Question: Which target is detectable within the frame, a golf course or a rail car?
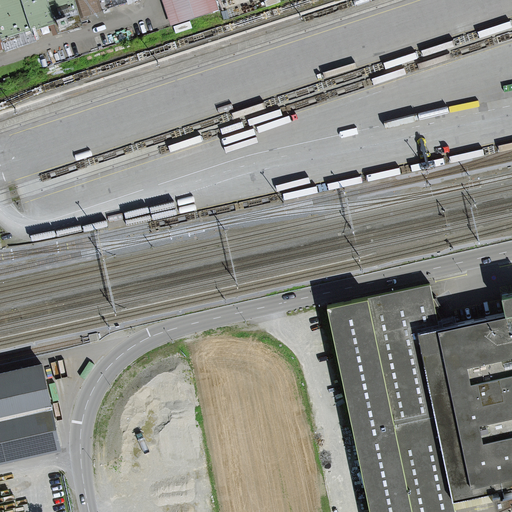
rail car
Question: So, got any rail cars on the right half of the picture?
Yes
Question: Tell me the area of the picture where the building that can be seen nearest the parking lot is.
bottom right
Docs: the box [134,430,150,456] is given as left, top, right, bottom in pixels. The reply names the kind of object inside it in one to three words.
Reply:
vehicle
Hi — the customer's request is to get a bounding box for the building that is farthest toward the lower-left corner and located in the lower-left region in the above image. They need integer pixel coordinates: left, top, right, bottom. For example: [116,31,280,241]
[0,360,61,462]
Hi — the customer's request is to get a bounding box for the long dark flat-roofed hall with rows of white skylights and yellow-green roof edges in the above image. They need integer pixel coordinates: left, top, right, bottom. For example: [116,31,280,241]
[327,284,454,512]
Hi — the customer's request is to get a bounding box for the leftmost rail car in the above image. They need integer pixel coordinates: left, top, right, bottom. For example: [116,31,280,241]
[0,88,40,108]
